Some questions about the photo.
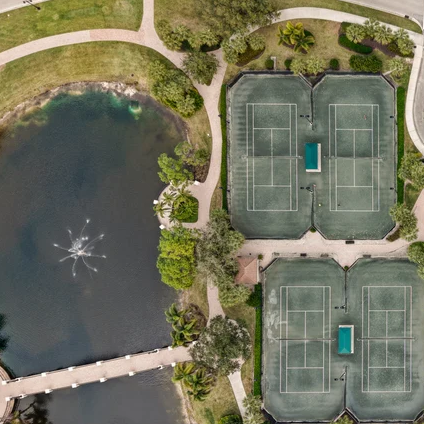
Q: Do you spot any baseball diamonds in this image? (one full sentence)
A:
No, the photo shows no baseball diamond.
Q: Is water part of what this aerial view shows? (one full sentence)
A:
Yes, there's water in this view.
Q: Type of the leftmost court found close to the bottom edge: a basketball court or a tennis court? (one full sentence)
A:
The leftmost court found close to the bottom edge in the image is a tennis court.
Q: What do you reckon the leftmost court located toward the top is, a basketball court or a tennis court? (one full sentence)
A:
What you see as the leftmost court located toward the top is a tennis court.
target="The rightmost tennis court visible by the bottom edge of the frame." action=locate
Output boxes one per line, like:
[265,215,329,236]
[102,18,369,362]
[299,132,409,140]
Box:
[346,259,424,421]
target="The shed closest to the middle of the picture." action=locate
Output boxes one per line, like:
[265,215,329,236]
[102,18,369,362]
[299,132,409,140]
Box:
[236,256,261,284]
